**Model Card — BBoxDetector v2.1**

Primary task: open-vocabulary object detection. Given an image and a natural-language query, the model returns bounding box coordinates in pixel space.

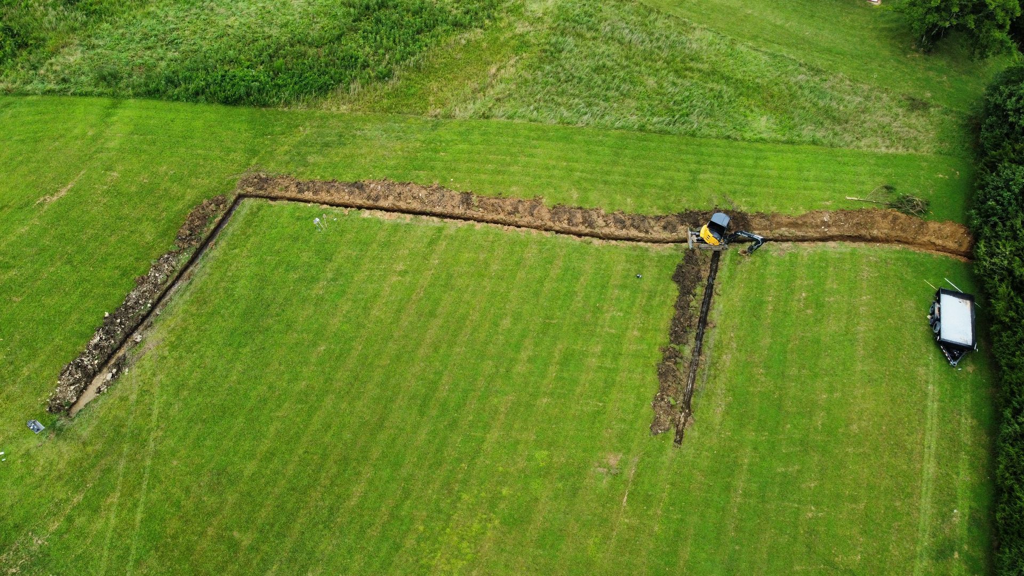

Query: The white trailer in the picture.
[926,288,978,368]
